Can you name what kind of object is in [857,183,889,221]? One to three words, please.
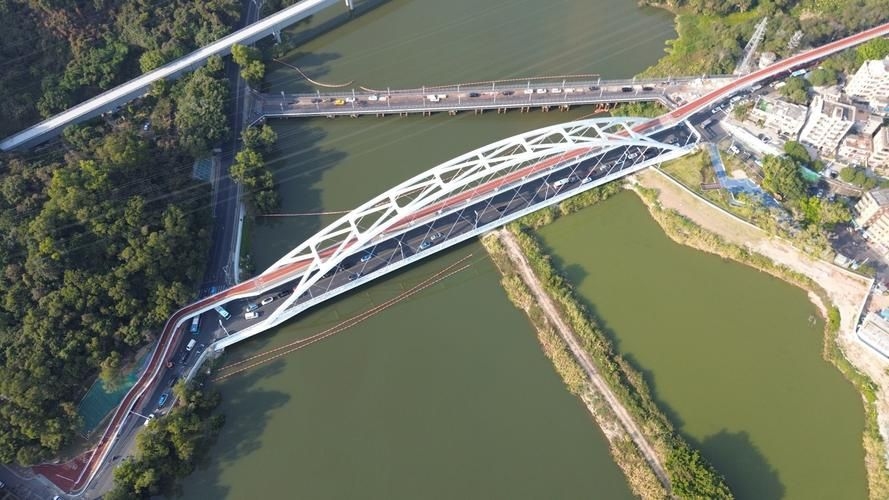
building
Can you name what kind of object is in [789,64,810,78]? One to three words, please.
vehicle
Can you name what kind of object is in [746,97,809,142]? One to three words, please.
house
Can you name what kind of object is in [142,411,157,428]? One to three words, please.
car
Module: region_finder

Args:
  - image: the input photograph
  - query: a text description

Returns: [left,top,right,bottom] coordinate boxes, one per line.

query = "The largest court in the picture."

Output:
[75,352,152,438]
